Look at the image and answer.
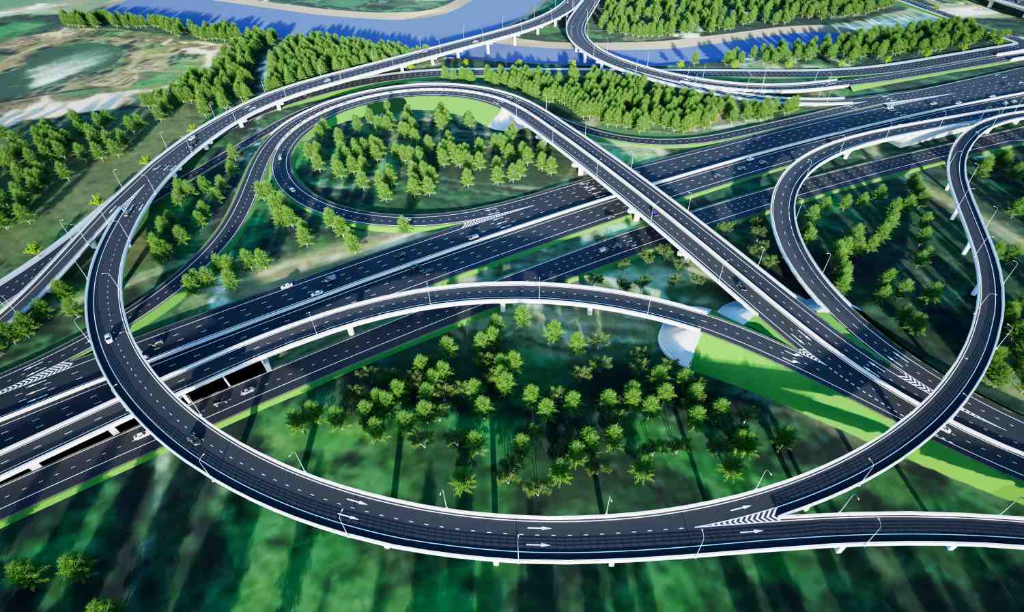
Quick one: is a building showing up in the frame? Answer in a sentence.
No, no building can be seen from above.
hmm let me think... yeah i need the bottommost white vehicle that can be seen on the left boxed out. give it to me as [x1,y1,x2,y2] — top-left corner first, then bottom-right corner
[130,428,149,442]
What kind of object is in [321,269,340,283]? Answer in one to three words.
vehicle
